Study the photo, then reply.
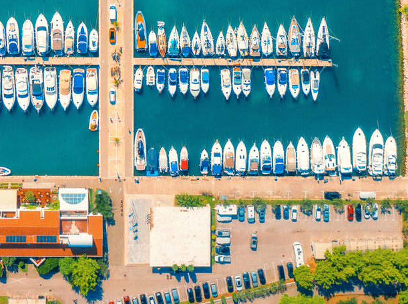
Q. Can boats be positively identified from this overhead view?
Yes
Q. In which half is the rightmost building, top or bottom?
bottom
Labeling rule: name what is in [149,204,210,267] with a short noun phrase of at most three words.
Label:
building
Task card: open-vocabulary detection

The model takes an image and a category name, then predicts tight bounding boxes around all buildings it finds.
[0,180,103,256]
[149,204,210,267]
